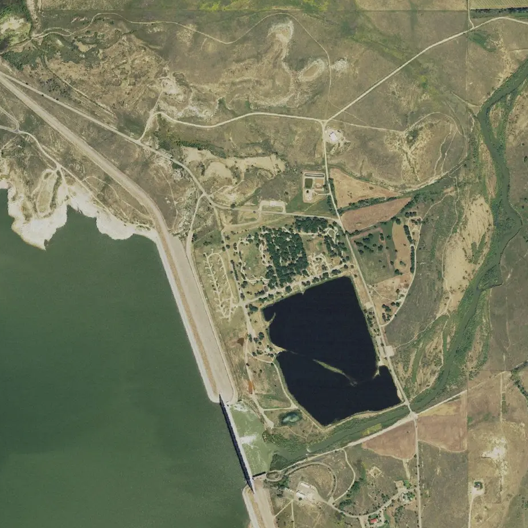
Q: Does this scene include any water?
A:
Yes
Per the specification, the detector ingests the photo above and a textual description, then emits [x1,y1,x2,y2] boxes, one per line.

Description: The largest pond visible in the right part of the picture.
[262,277,399,426]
